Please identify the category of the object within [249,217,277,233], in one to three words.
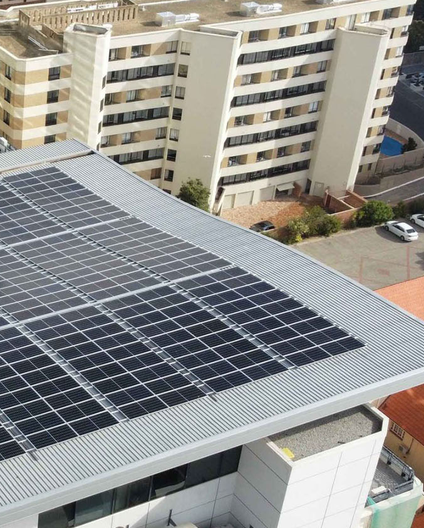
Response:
car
